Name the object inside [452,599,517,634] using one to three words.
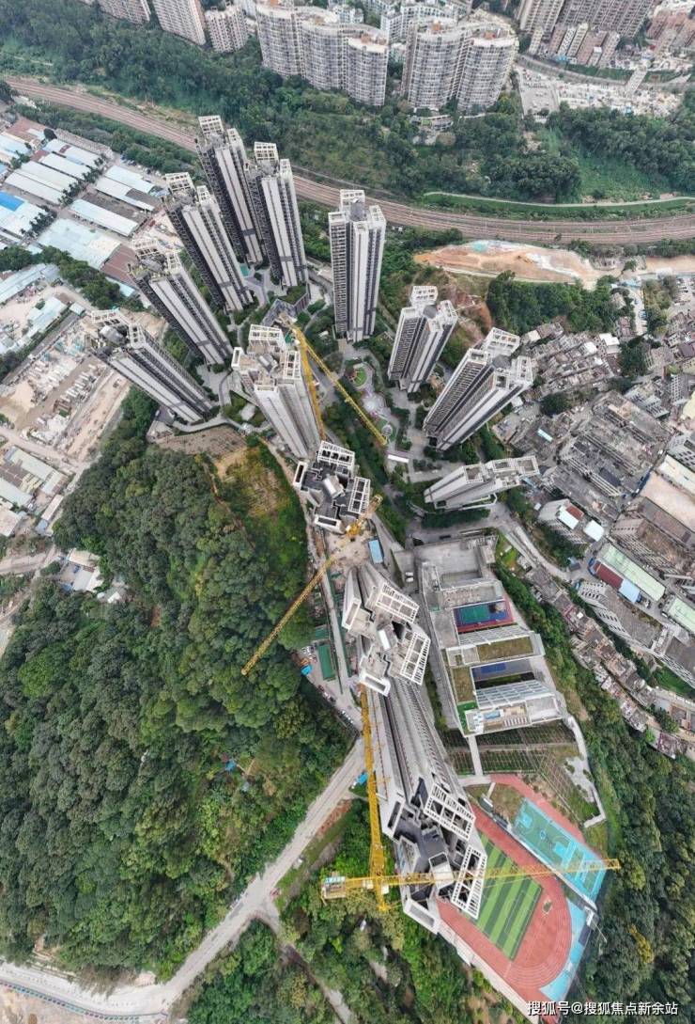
sports court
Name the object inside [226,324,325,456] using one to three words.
building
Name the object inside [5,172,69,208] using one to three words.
shed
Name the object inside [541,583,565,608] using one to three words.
house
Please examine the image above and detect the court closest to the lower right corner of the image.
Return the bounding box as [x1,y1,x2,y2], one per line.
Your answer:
[513,798,606,906]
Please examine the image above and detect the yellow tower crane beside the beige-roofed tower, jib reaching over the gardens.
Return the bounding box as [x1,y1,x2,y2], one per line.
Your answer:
[281,305,389,447]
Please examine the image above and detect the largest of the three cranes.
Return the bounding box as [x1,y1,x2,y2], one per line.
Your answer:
[324,685,622,910]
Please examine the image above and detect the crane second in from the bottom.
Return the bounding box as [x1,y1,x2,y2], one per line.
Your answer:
[242,493,381,675]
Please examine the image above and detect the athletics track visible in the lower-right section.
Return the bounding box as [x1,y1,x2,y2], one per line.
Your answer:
[454,773,577,1005]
